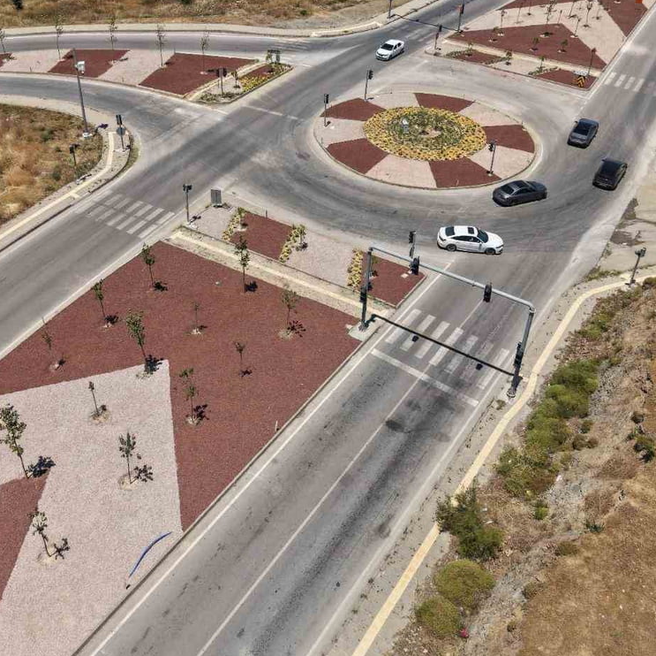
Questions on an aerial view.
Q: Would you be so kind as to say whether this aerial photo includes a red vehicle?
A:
No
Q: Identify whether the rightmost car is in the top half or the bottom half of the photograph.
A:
top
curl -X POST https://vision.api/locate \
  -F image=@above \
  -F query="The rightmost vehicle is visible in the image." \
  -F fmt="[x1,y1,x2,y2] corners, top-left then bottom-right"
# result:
[596,156,628,183]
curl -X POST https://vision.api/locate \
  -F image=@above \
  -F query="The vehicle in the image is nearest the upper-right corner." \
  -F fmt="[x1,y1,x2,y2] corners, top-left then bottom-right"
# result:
[571,116,599,139]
